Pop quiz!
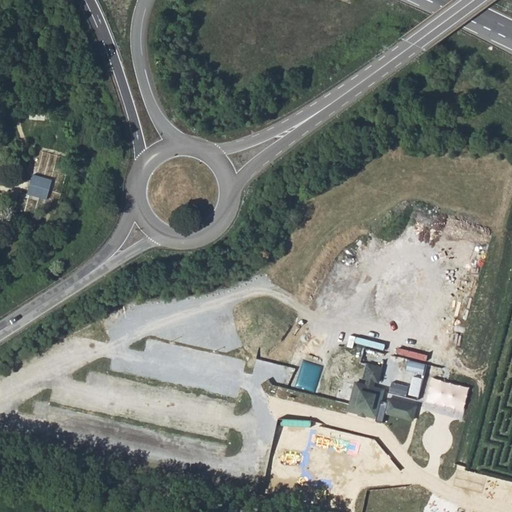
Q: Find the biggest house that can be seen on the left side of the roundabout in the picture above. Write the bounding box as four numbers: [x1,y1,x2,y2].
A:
[26,172,52,199]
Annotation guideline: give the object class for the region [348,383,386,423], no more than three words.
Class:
building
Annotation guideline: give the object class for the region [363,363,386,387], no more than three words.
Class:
building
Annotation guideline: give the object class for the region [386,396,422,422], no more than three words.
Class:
house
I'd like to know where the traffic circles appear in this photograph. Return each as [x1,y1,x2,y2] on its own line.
[125,128,242,250]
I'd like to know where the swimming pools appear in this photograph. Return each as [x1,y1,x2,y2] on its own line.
[294,358,325,394]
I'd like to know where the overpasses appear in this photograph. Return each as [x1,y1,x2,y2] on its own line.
[404,0,496,56]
